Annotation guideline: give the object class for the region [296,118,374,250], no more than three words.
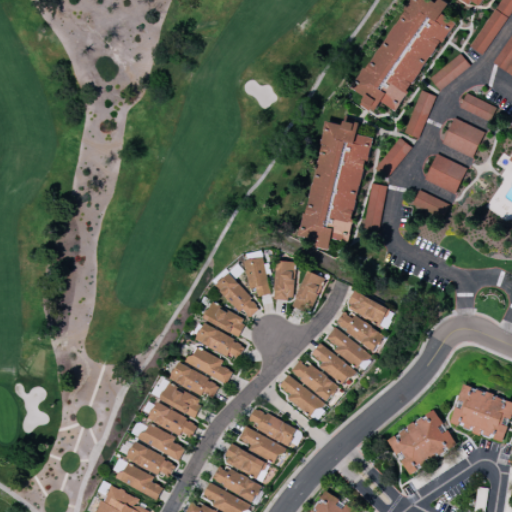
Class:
building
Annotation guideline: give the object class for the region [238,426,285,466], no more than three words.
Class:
house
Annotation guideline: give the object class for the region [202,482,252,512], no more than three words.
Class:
house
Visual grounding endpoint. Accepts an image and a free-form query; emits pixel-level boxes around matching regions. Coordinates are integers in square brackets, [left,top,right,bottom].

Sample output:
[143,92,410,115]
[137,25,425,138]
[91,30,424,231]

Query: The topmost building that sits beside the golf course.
[352,0,455,112]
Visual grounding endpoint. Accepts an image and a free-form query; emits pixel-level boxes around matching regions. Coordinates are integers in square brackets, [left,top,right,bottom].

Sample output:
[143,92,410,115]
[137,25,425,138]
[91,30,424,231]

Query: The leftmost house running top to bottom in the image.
[245,250,272,298]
